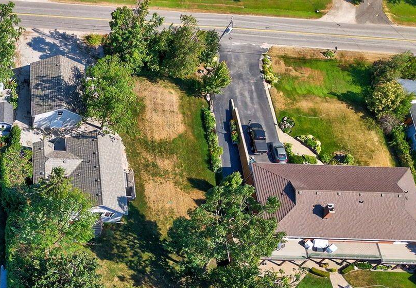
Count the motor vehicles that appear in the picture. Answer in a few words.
2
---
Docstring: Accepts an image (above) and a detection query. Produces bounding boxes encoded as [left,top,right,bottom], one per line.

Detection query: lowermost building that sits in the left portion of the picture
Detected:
[32,135,137,224]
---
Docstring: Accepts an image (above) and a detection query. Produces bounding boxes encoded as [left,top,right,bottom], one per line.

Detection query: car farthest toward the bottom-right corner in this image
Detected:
[268,138,291,164]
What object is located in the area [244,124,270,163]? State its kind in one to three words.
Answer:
truck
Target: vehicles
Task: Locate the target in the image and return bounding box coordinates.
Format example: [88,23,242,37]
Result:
[244,124,270,163]
[268,138,291,164]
